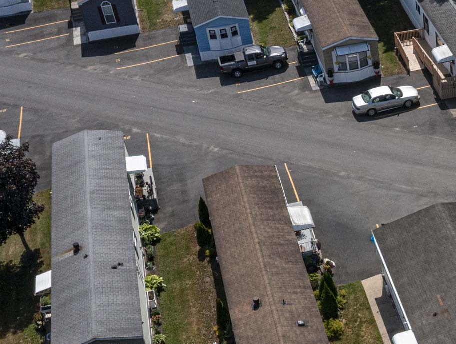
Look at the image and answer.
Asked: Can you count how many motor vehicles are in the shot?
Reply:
2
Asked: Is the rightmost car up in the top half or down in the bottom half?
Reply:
top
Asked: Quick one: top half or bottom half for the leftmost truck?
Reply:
top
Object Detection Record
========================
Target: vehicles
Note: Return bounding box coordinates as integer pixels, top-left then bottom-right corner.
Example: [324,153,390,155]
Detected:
[219,41,291,75]
[349,83,420,115]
